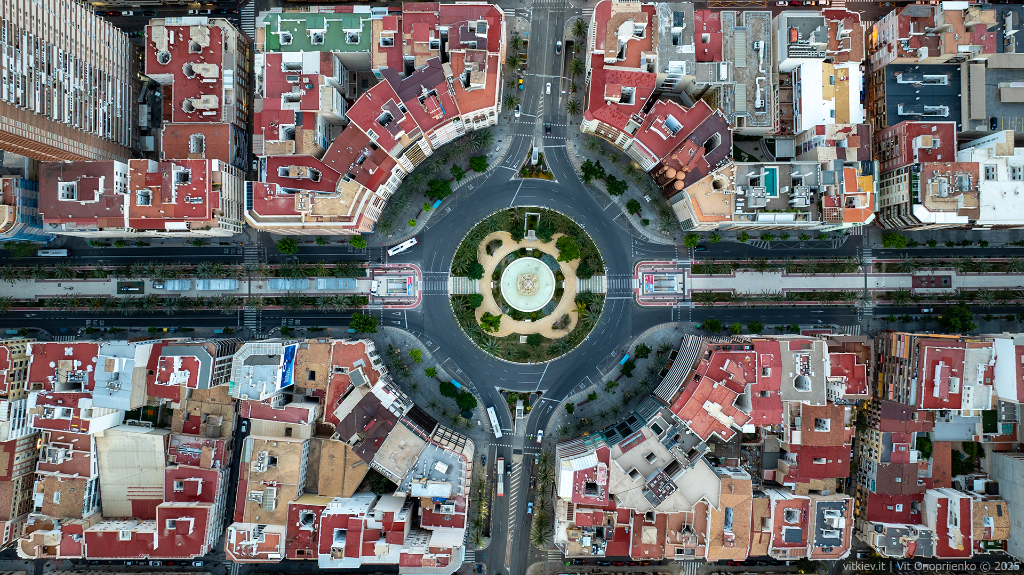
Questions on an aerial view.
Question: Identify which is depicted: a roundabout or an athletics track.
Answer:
roundabout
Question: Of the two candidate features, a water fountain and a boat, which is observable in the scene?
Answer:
water fountain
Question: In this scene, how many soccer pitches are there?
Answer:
0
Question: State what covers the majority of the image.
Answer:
buildings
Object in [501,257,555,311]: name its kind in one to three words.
fountain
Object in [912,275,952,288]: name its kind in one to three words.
playground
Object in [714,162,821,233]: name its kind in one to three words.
building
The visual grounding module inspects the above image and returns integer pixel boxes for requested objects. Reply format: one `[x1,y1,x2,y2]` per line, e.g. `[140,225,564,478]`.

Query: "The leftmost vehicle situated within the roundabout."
[488,406,502,440]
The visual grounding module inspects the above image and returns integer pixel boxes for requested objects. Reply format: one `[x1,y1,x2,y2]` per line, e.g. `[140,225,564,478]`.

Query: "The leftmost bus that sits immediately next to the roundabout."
[386,237,418,257]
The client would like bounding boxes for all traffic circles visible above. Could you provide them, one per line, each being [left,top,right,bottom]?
[423,122,634,449]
